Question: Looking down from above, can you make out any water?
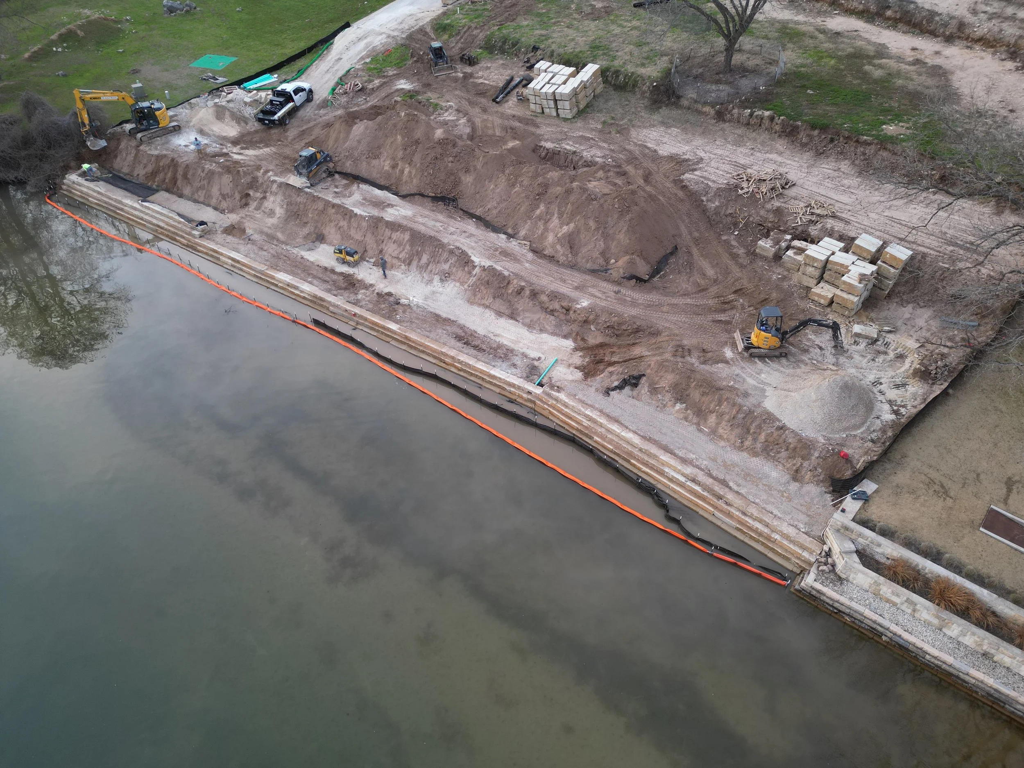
Yes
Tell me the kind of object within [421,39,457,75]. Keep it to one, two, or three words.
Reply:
work vehicle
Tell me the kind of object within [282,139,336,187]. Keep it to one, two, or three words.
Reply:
work vehicle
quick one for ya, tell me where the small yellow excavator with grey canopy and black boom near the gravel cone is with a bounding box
[728,303,847,359]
